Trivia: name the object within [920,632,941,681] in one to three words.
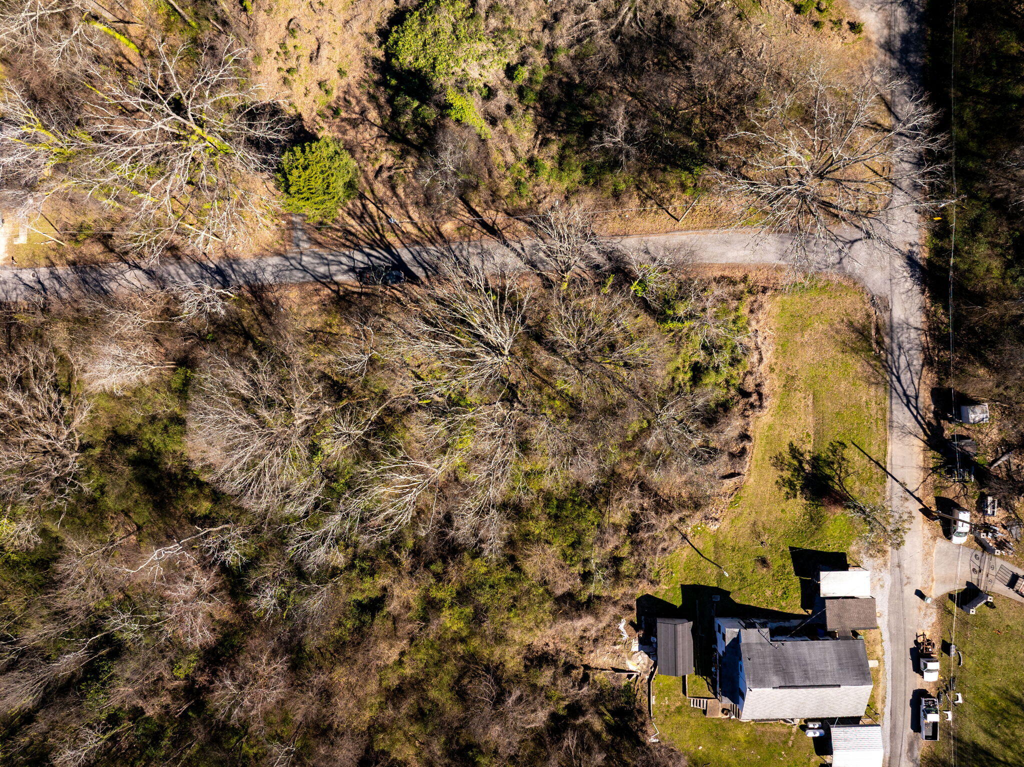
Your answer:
truck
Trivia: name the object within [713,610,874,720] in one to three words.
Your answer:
house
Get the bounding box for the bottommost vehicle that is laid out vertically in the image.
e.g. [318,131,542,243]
[920,695,941,741]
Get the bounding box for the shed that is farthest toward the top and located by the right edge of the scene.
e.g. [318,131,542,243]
[959,403,989,424]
